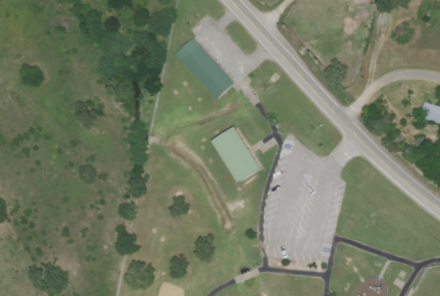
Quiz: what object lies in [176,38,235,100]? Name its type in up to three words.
building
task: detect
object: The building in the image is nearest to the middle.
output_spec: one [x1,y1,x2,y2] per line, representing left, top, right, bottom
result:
[212,126,262,184]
